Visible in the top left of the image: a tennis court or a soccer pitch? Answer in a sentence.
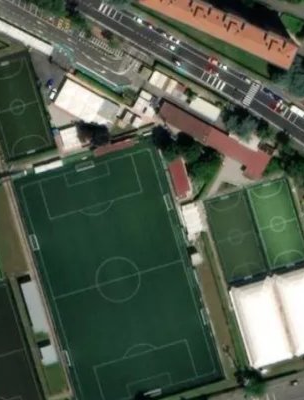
There is a soccer pitch in the top left of the image.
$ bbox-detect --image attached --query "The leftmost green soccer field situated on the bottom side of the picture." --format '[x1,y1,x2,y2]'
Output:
[14,145,226,400]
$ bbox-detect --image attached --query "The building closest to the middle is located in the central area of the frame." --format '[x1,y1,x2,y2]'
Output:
[169,160,189,197]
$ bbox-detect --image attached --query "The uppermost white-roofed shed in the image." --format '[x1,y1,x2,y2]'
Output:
[0,20,54,56]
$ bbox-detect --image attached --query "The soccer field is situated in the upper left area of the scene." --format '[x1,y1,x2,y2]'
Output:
[0,51,56,163]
